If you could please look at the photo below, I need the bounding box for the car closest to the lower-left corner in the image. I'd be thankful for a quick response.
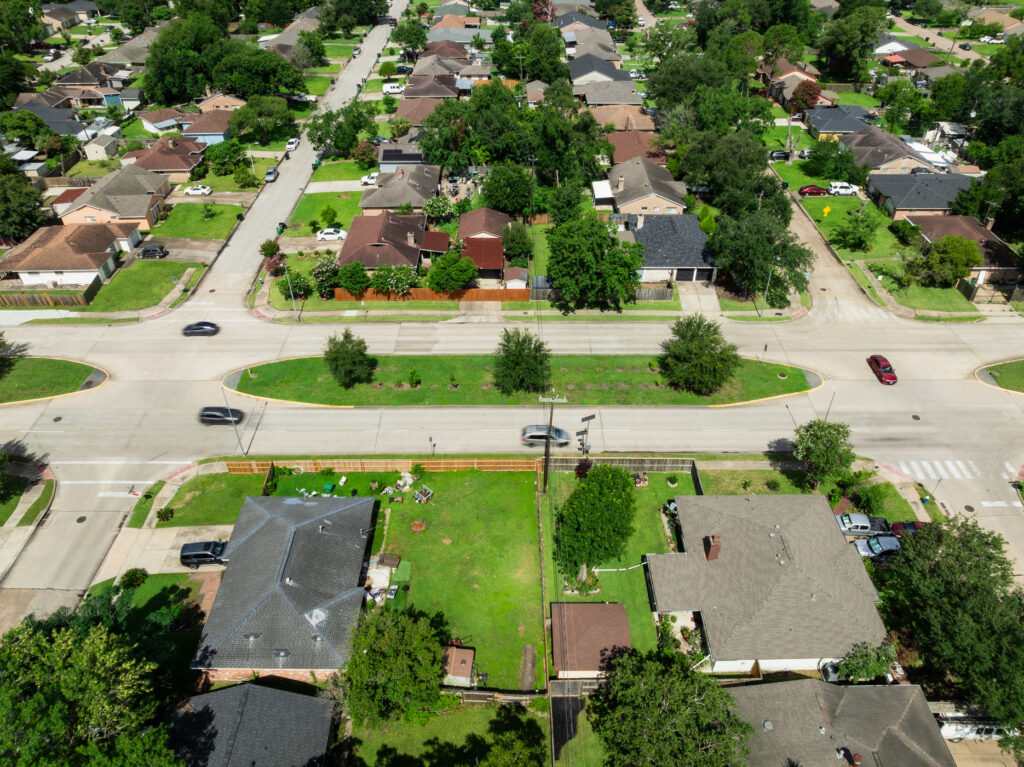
[175,541,232,568]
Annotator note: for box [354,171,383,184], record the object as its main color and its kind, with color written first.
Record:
white vehicle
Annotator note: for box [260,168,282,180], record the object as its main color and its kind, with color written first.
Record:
gray vehicle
